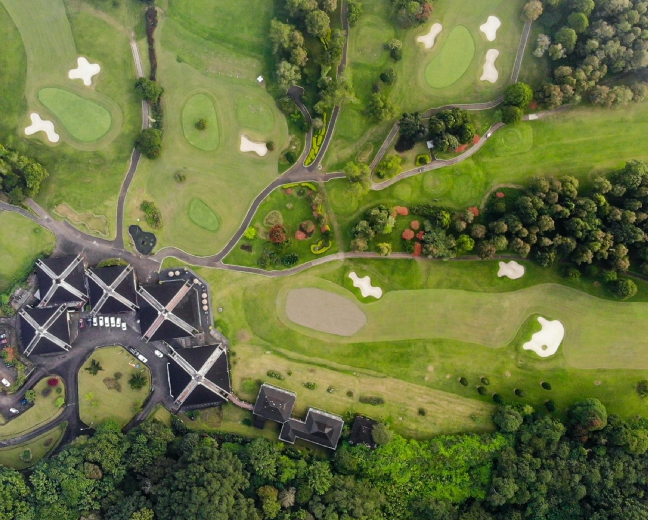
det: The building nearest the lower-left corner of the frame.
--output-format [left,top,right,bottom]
[16,300,75,358]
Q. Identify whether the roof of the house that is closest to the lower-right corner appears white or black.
black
